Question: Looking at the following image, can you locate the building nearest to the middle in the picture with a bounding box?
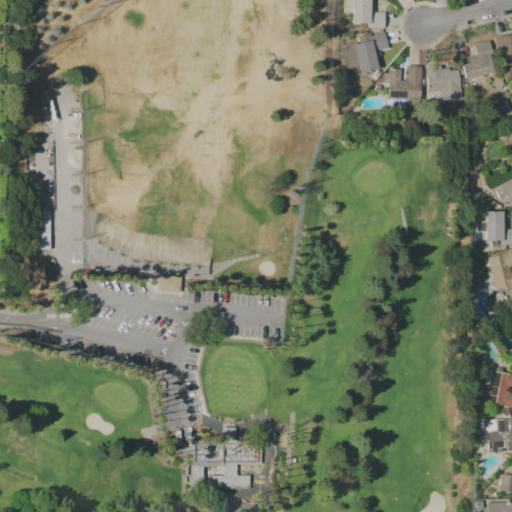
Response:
[158,276,183,292]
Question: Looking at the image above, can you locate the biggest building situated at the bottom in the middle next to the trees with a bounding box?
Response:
[206,464,253,488]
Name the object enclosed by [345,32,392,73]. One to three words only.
house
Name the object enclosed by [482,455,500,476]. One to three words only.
swimming pool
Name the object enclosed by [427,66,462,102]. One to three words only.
house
